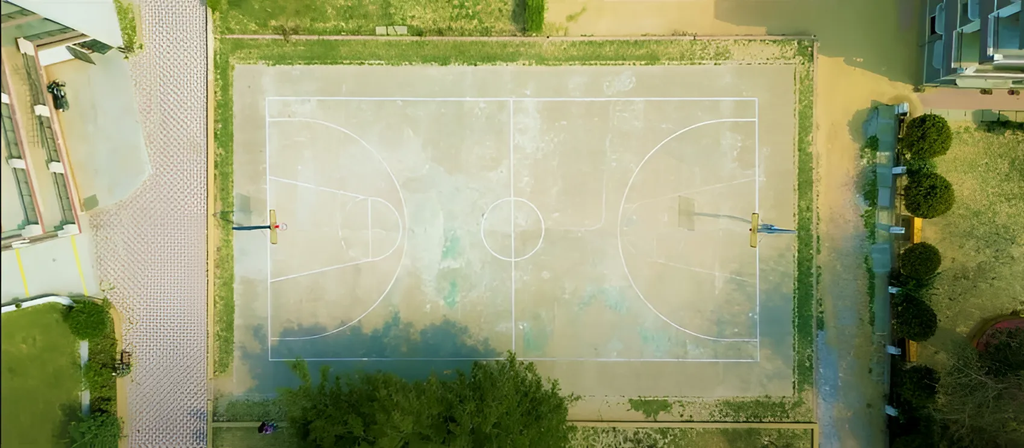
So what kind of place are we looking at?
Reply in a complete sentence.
The picture captures a sports ground.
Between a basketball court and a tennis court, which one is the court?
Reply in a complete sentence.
Specifically, the court is a basketball court.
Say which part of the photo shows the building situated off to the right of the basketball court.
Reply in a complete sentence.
The building situated off to the right of the basketball court sits in the top right section of the image.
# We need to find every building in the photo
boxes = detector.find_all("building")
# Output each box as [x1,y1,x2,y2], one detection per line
[922,0,1024,94]
[0,0,115,256]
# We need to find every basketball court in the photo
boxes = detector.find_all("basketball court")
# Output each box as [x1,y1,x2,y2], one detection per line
[233,64,796,397]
